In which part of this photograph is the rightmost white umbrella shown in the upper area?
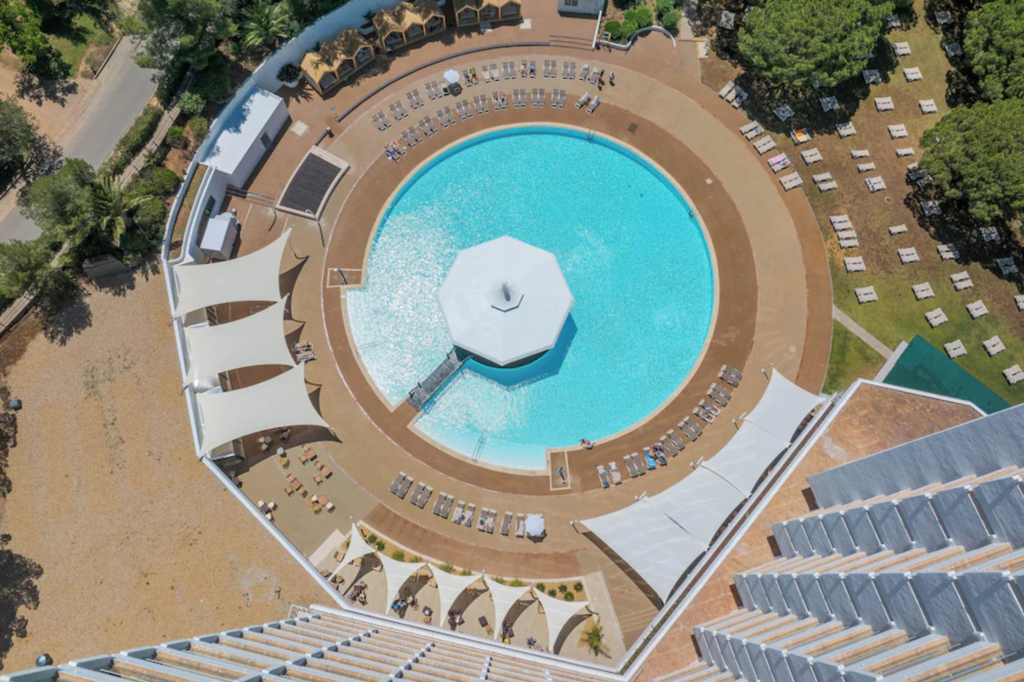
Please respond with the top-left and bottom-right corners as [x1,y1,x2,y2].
[443,71,461,90]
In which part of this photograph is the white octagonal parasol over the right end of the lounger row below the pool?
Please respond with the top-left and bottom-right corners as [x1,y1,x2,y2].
[524,514,546,537]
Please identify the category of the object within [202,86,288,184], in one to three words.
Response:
shed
